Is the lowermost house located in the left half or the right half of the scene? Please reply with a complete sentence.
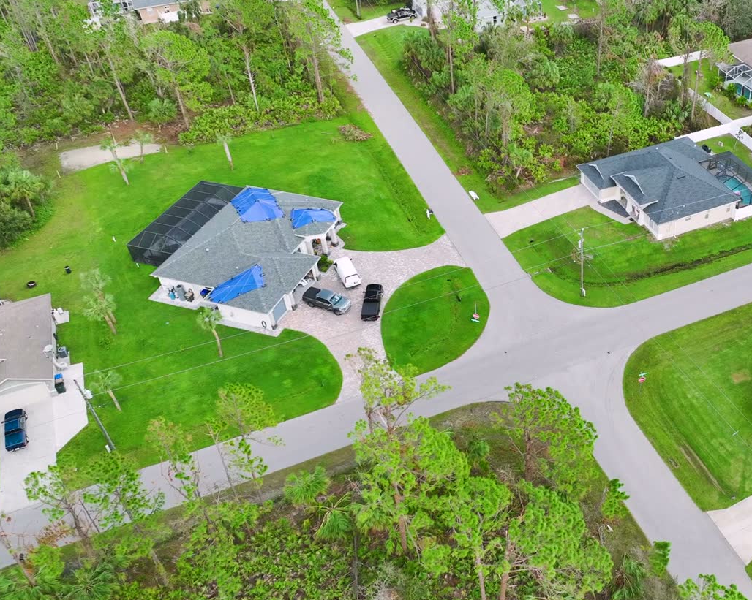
The lowermost house is on the left side of the image.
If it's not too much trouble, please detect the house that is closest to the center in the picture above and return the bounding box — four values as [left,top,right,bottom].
[150,186,344,334]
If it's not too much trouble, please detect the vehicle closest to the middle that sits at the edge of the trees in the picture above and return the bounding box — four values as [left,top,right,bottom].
[360,285,384,322]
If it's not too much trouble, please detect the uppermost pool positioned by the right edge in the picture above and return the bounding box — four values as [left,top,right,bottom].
[718,78,752,104]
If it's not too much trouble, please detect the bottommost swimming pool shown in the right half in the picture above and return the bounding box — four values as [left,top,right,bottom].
[705,167,752,221]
